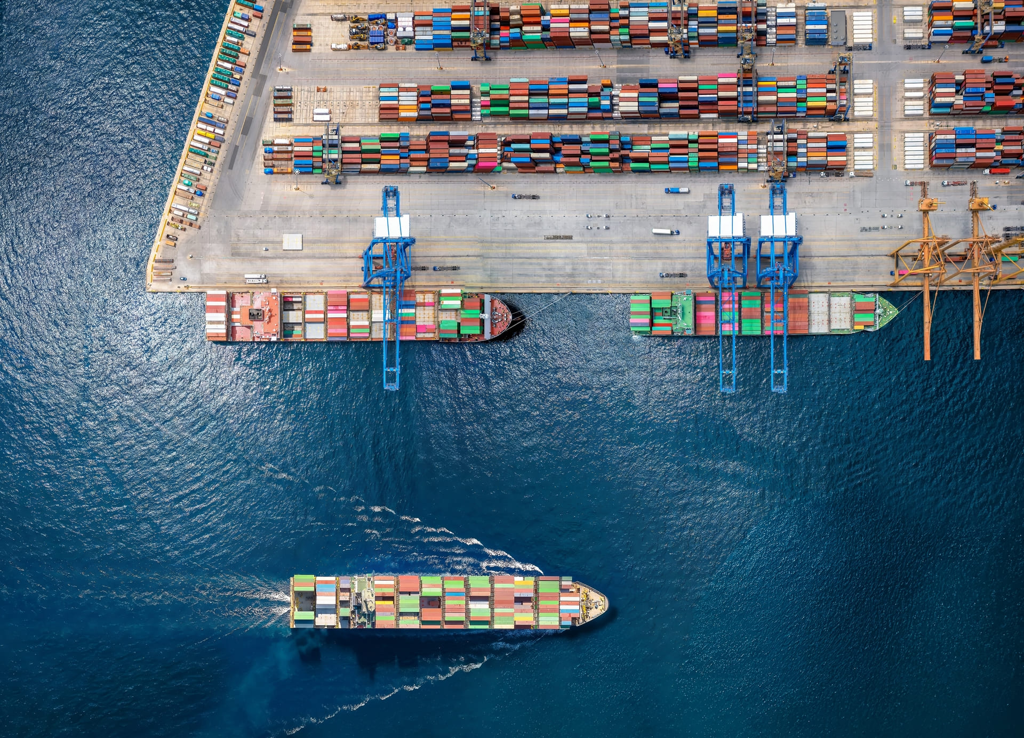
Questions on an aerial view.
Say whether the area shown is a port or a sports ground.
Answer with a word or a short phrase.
port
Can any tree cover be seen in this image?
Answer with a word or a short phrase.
No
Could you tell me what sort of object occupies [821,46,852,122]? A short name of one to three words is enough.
container crane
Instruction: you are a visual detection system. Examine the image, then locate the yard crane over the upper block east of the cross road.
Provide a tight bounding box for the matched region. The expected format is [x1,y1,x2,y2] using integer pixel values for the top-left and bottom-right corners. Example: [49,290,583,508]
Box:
[960,0,996,56]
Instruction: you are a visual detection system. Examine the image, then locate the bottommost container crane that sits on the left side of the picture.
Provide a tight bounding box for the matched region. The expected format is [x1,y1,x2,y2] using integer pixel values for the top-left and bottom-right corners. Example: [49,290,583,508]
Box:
[371,184,425,397]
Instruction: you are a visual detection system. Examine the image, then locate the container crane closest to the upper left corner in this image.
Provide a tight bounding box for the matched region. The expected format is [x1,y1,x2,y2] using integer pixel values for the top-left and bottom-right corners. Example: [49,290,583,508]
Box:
[322,117,352,187]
